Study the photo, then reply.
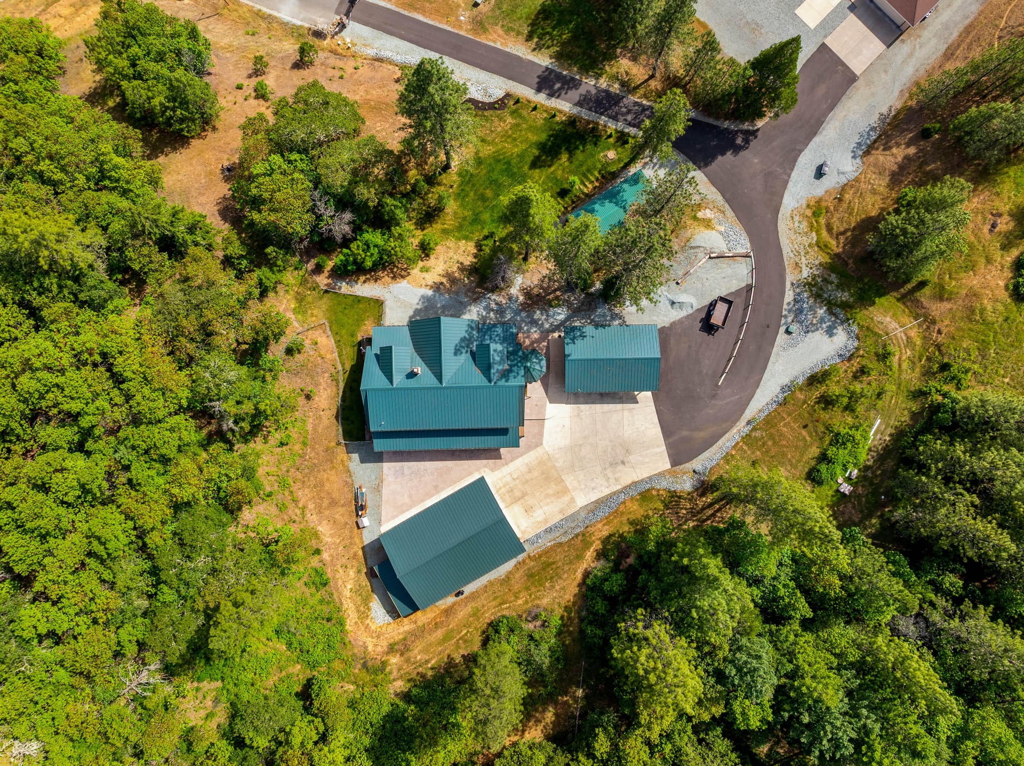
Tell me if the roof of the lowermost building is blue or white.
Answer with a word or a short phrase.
blue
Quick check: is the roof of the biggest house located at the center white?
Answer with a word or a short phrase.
No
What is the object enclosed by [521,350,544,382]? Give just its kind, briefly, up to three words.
gazebo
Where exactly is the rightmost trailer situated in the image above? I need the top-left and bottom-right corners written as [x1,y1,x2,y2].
[709,294,738,339]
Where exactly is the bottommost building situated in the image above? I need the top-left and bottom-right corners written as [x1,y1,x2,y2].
[373,475,526,620]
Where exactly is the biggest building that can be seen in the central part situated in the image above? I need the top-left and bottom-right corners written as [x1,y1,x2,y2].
[354,316,528,452]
